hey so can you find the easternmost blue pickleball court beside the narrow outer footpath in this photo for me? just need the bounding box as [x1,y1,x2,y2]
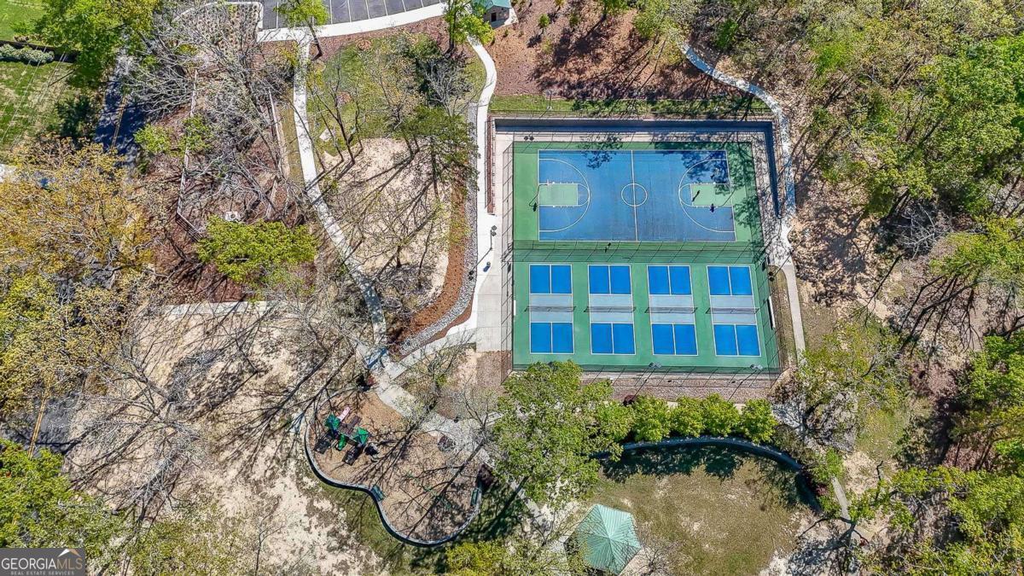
[697,250,782,372]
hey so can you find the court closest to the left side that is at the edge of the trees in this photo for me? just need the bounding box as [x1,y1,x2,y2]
[512,249,583,371]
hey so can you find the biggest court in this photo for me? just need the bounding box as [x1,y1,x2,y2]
[513,141,766,250]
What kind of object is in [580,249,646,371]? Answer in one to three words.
sports court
